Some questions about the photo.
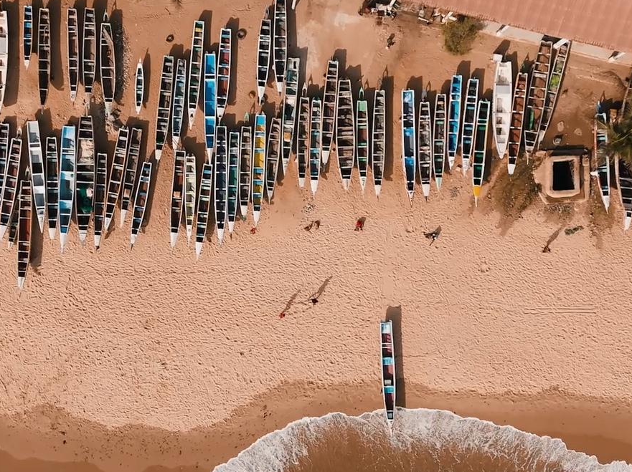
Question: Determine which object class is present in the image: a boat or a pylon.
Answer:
boat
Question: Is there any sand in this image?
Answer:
Yes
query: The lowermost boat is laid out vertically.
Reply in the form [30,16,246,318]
[382,320,395,439]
